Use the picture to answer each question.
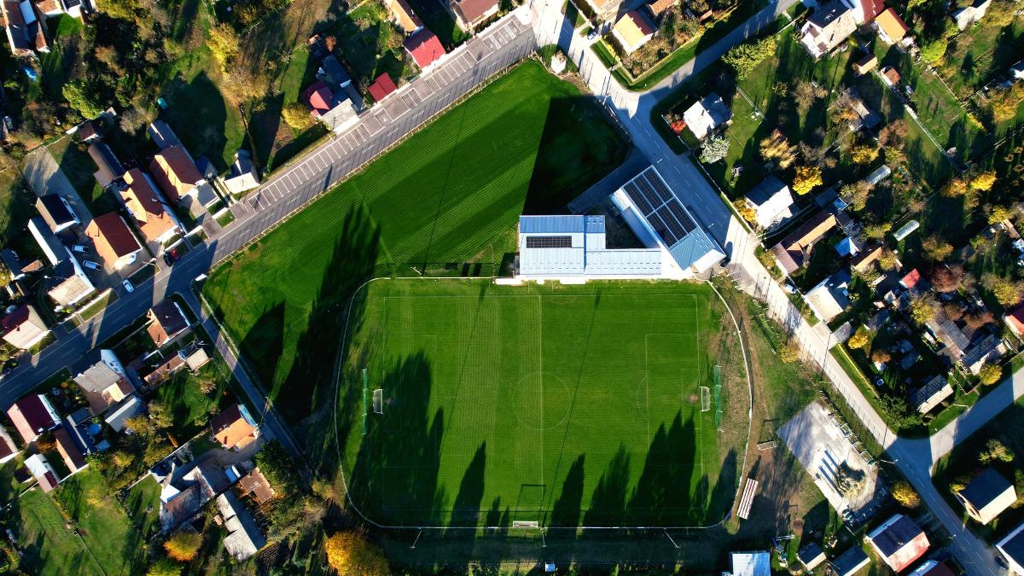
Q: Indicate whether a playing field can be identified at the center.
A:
Yes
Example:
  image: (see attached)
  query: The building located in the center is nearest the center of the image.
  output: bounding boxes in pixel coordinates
[519,215,662,275]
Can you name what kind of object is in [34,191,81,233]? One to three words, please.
house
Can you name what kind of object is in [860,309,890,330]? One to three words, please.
shed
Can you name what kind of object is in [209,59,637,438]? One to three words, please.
sports field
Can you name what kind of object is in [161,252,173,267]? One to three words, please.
vehicle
